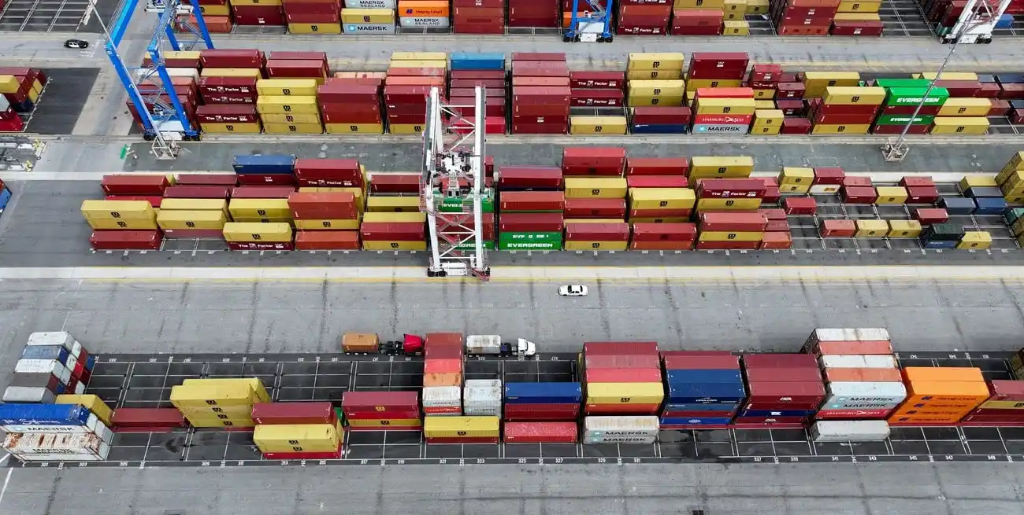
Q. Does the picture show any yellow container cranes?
No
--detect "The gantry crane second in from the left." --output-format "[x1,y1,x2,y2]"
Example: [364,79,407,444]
[416,82,492,281]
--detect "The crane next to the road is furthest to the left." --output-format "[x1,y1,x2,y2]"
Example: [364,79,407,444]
[94,0,211,140]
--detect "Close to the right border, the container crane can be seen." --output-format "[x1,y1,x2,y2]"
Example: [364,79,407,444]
[944,0,1014,42]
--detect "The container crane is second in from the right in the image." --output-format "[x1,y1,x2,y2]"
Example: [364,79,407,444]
[565,0,614,41]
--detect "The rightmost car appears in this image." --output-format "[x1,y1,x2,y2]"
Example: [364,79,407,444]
[558,281,588,293]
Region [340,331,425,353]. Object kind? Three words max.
truck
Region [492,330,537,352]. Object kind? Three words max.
truck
